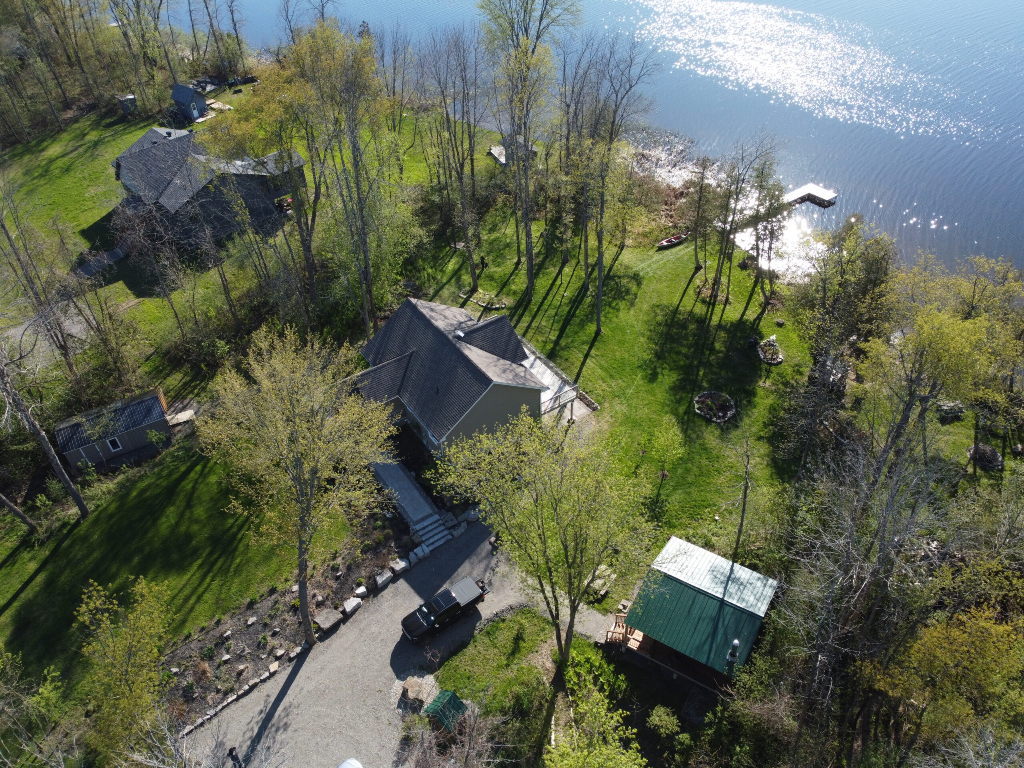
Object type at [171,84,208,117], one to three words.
shed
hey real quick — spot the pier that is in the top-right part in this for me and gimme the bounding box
[763,178,840,216]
